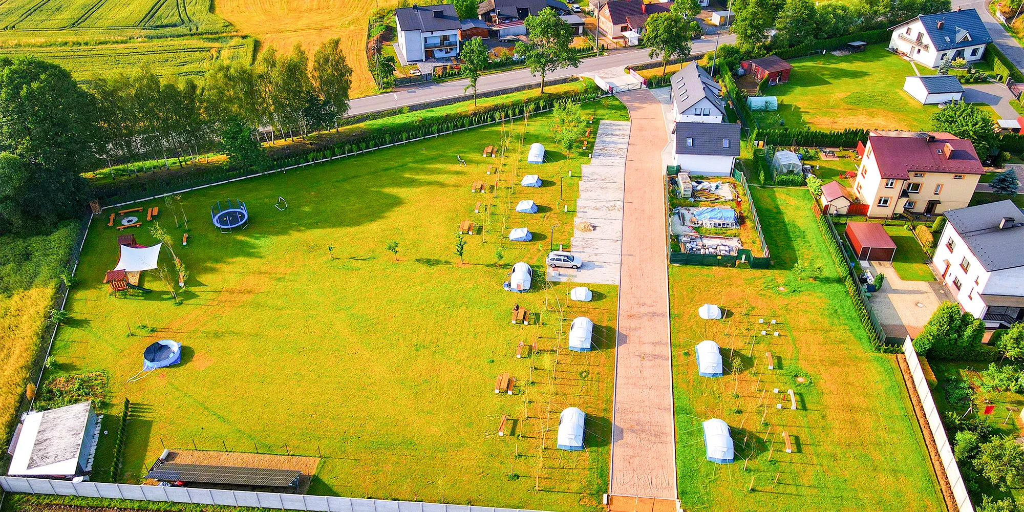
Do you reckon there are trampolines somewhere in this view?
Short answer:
Yes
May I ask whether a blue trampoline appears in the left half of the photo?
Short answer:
Yes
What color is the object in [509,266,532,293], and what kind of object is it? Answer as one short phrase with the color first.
white tent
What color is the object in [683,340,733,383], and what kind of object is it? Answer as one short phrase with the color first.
white tent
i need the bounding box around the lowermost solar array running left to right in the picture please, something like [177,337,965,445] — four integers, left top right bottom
[145,459,288,493]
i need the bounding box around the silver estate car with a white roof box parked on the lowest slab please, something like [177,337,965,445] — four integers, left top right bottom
[546,249,581,267]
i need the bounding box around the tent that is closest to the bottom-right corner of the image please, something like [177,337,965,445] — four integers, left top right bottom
[690,417,746,478]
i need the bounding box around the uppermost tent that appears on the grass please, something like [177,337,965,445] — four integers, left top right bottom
[525,142,550,165]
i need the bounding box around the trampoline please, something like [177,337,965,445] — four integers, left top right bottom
[207,202,248,235]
